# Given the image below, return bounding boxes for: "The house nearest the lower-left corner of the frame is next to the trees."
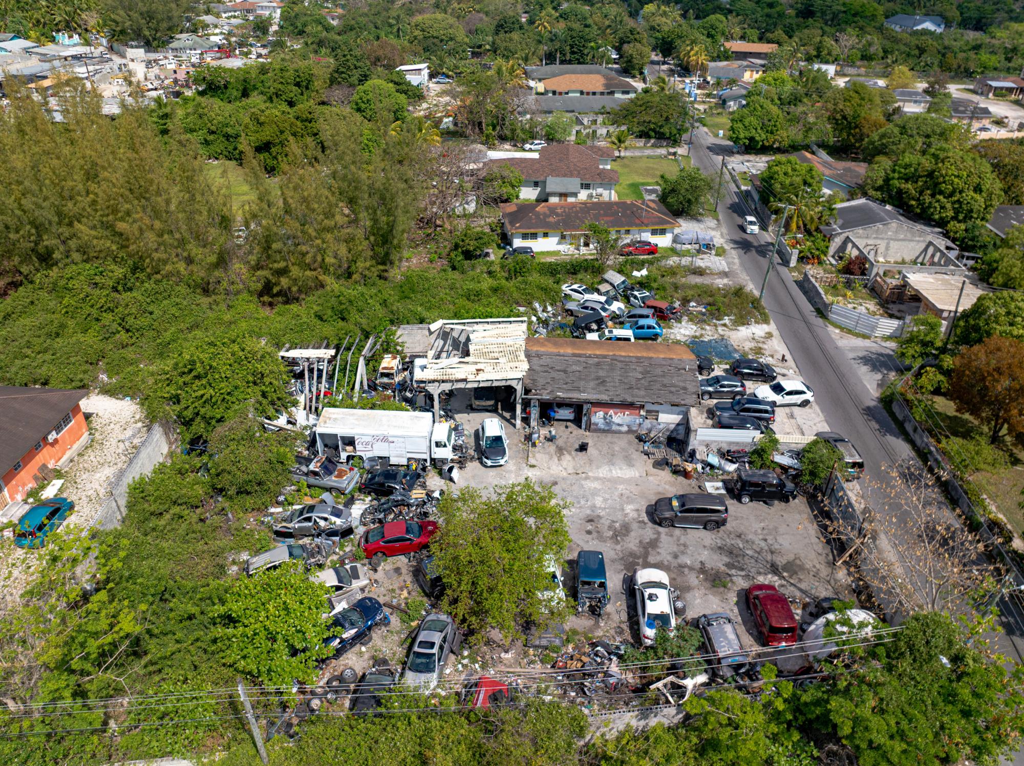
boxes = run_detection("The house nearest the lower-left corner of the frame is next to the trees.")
[0,379,105,568]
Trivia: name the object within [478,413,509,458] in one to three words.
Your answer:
car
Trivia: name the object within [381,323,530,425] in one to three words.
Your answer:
shed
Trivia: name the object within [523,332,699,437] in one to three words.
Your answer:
building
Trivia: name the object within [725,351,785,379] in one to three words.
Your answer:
car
